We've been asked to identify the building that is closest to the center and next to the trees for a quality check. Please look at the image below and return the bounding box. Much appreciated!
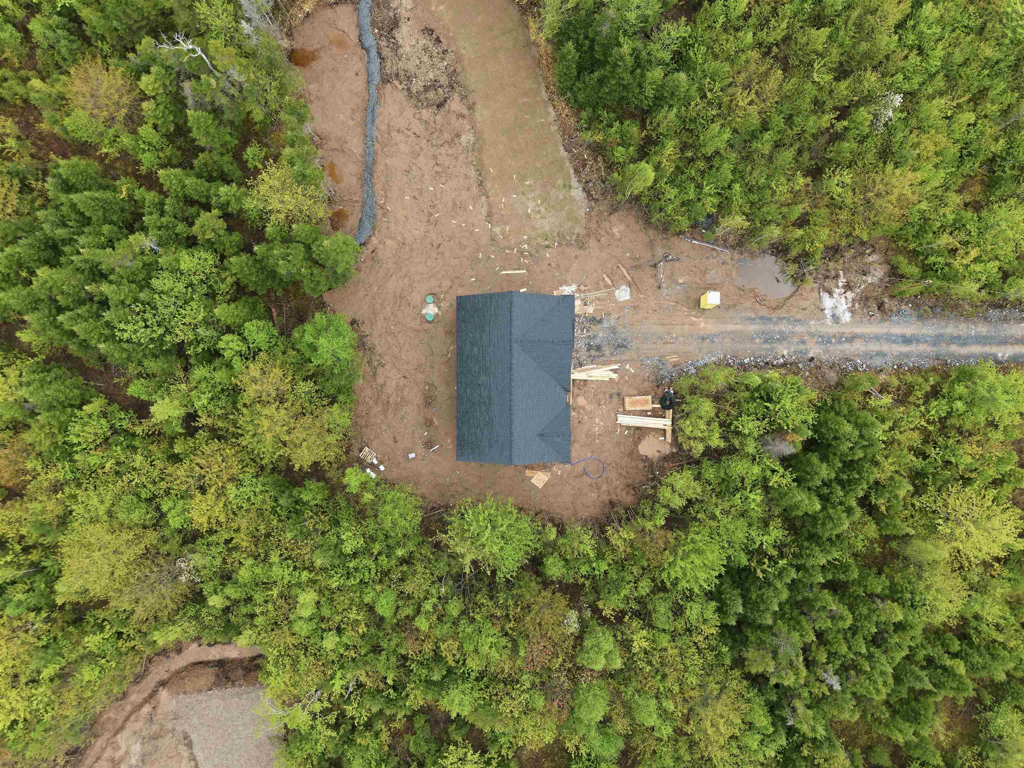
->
[456,290,575,465]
